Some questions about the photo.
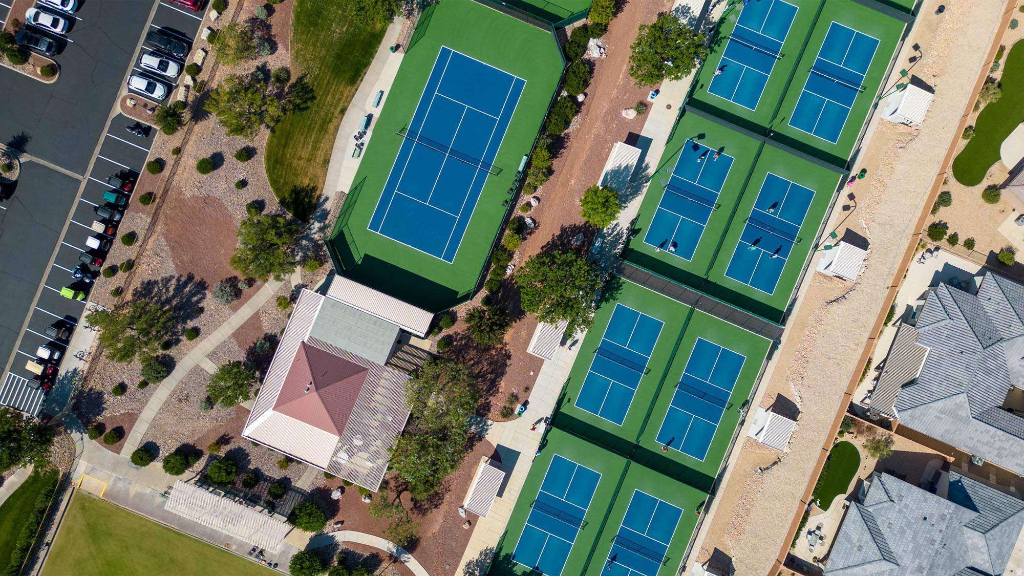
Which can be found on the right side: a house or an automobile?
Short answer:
house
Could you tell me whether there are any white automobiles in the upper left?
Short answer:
Yes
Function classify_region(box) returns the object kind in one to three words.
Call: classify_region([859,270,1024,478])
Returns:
house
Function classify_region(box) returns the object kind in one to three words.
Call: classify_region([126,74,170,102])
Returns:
car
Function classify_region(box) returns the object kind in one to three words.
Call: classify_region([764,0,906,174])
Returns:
sports court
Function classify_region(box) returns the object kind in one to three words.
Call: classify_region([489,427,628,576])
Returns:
sports court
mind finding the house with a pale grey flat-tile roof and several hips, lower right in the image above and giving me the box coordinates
[817,468,1024,576]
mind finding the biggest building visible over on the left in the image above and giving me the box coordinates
[241,289,421,493]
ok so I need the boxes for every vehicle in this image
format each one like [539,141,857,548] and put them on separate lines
[40,0,82,17]
[84,235,113,251]
[42,323,71,338]
[126,74,170,102]
[23,358,56,375]
[139,52,181,80]
[106,175,135,192]
[77,251,106,267]
[18,30,61,58]
[26,374,55,390]
[90,219,118,236]
[144,29,192,60]
[59,285,88,301]
[27,8,70,36]
[165,0,208,17]
[95,204,124,221]
[127,126,147,138]
[35,344,64,359]
[101,189,130,206]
